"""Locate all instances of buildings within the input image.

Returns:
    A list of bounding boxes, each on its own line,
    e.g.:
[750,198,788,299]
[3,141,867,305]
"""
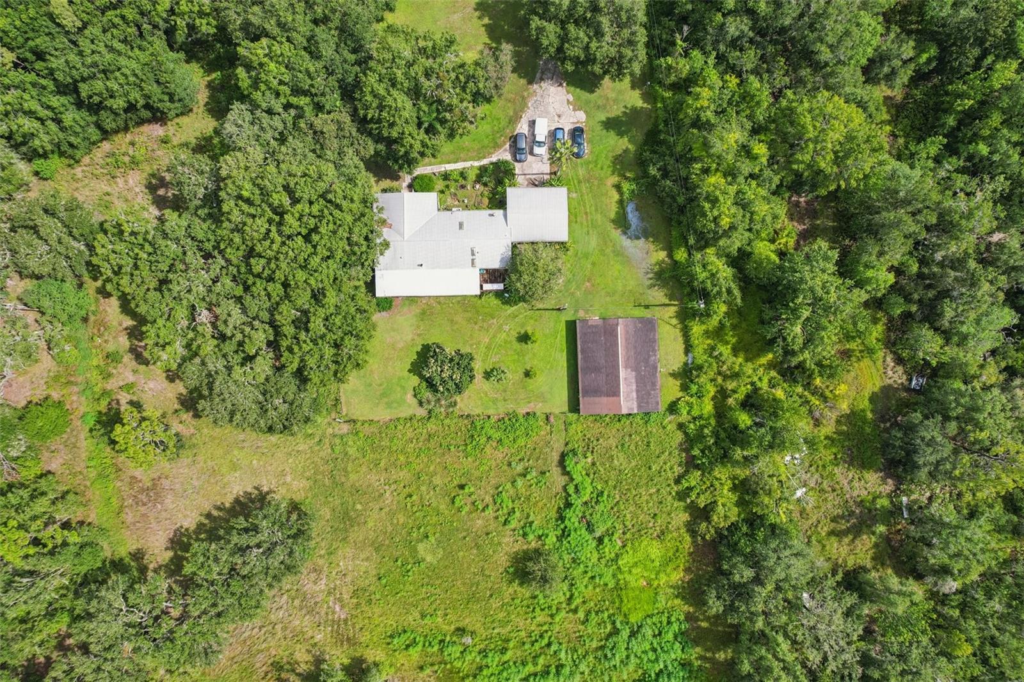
[577,317,660,414]
[375,185,568,297]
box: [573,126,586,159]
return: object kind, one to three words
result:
vehicle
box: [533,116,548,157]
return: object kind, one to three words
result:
vehicle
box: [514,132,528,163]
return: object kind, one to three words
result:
car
